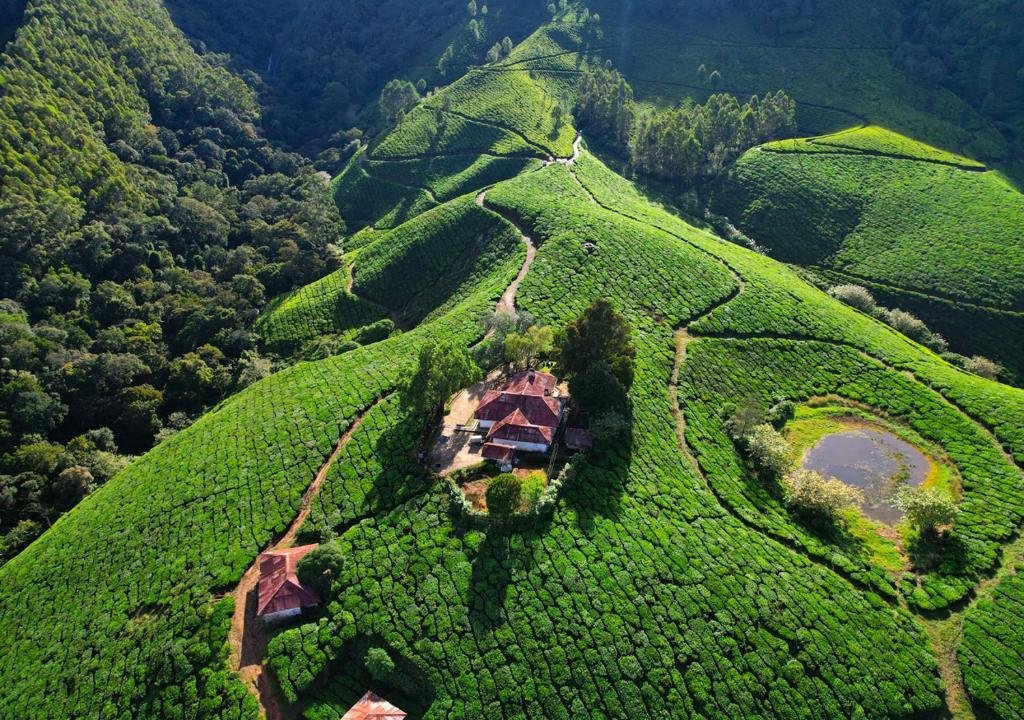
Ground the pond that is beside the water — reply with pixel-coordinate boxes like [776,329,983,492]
[808,427,928,516]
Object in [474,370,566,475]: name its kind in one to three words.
house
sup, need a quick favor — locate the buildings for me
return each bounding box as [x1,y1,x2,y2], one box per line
[349,691,409,720]
[259,544,321,623]
[560,426,590,456]
[474,370,566,475]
